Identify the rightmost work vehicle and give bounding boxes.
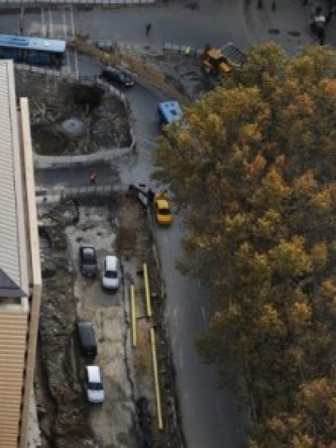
[190,32,231,82]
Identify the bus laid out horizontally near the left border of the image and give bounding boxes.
[0,35,66,67]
